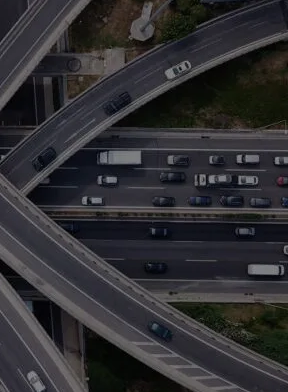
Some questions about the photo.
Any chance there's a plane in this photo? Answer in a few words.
No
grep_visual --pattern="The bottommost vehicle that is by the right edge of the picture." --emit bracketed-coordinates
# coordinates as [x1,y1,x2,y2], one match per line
[246,264,283,276]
